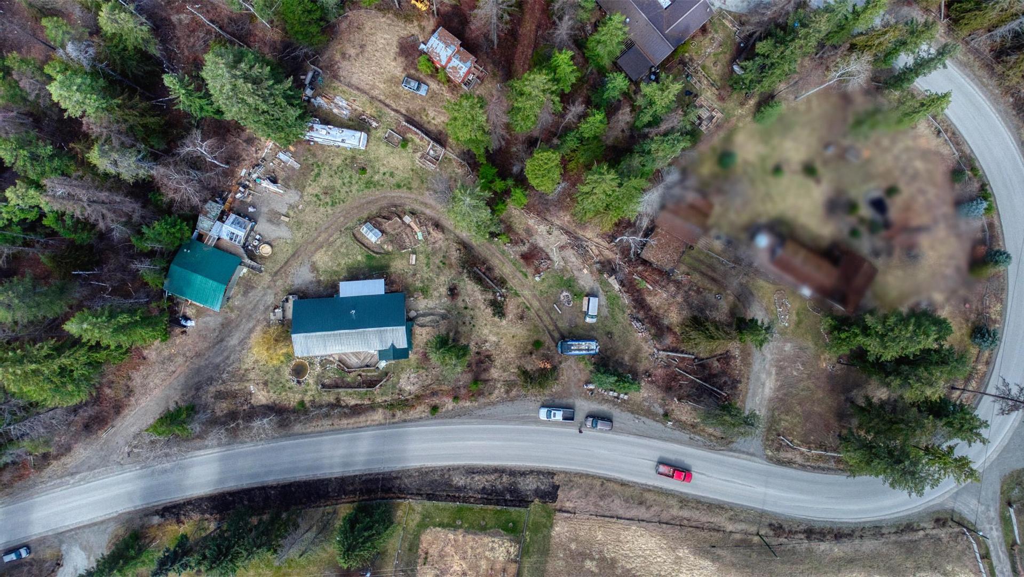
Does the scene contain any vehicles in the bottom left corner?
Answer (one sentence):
Yes, a vehicle can be seen in the bottom left corner.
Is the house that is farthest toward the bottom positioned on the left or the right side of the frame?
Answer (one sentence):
You can find the house that is farthest toward the bottom on the left side of the picture.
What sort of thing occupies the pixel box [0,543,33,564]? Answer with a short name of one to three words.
truck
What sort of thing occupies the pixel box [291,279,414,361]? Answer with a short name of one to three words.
house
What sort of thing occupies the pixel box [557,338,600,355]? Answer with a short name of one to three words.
vehicle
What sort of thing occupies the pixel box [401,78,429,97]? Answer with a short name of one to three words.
car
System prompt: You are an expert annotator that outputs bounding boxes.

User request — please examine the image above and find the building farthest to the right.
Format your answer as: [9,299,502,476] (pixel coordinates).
[767,239,878,316]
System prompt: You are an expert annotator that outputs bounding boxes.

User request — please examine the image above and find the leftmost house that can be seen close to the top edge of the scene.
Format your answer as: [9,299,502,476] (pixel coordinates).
[419,27,476,85]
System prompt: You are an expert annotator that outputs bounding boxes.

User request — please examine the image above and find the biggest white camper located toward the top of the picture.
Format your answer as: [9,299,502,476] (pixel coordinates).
[304,124,369,152]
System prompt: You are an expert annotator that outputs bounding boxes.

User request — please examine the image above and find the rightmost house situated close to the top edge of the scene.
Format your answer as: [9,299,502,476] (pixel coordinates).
[593,0,730,82]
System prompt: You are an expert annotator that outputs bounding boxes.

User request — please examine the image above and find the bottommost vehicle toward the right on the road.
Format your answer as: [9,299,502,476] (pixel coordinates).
[654,462,691,482]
